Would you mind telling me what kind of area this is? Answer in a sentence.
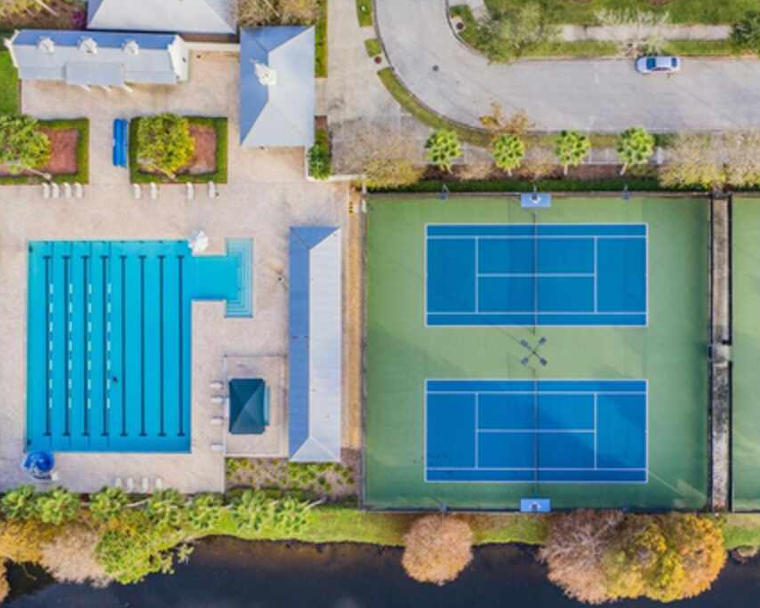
What you see here is a sports ground.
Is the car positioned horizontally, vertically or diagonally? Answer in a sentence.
The car is oriented horizontally.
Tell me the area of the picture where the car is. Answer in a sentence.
The car is in the top right part of the image.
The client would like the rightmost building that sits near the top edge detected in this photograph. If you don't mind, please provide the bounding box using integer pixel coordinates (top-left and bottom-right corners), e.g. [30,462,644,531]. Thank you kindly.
[240,25,316,150]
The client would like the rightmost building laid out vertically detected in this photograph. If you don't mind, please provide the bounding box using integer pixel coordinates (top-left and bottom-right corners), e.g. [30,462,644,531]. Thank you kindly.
[289,227,343,462]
